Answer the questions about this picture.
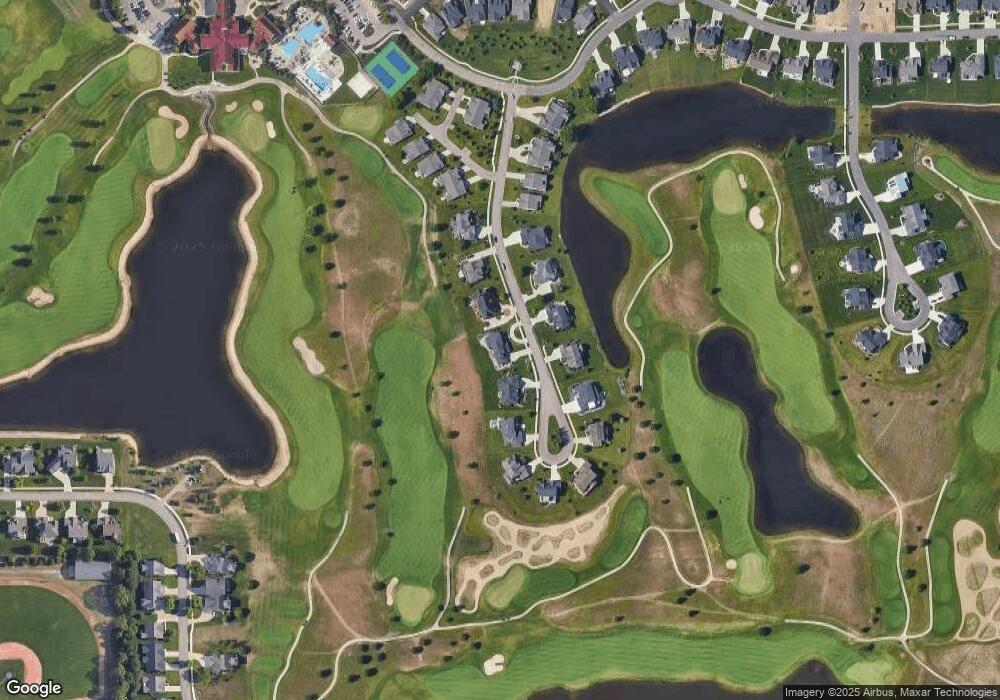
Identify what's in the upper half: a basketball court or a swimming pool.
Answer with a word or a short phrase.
swimming pool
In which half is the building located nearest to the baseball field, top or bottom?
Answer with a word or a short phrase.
bottom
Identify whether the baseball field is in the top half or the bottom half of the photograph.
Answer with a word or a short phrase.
bottom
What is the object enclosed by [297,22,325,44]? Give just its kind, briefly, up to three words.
swimming pool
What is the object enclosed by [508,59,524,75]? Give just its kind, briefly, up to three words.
gazebo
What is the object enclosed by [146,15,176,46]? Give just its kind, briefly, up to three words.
building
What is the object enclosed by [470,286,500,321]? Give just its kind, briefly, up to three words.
house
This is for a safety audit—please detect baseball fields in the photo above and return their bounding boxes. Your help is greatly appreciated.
[0,577,100,700]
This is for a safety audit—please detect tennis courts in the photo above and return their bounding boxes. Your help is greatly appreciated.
[387,49,410,74]
[371,64,396,89]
